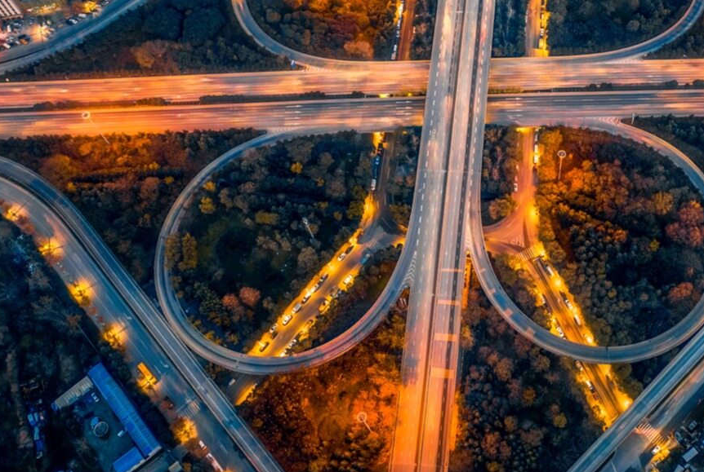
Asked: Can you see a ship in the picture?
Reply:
No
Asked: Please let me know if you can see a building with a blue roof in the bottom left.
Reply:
Yes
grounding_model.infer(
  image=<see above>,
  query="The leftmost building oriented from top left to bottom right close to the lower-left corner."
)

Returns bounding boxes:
[88,365,163,458]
